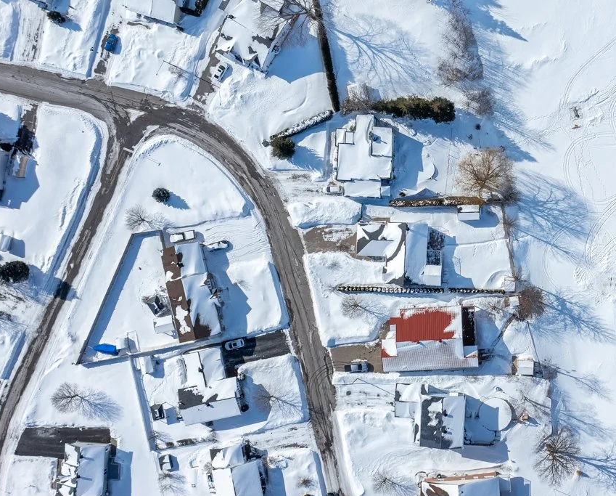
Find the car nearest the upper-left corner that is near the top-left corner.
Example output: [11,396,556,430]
[103,33,116,52]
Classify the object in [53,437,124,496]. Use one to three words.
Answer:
house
